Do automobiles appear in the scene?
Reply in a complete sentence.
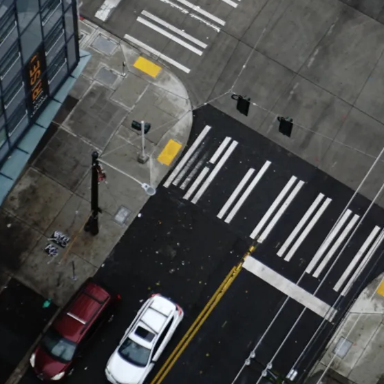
Yes, the photo shows an automobile.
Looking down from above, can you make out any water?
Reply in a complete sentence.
No, there is no water in the image.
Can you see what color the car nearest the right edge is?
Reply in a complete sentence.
The color of the car nearest the right edge is white.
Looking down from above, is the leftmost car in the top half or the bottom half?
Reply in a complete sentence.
The bottom half of the photo is where the leftmost car is.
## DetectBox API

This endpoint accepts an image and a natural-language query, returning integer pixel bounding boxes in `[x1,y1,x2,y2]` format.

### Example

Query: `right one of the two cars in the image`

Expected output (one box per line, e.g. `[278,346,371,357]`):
[100,300,186,384]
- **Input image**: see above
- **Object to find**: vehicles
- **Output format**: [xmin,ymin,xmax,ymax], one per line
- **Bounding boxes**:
[100,300,186,384]
[35,284,122,384]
